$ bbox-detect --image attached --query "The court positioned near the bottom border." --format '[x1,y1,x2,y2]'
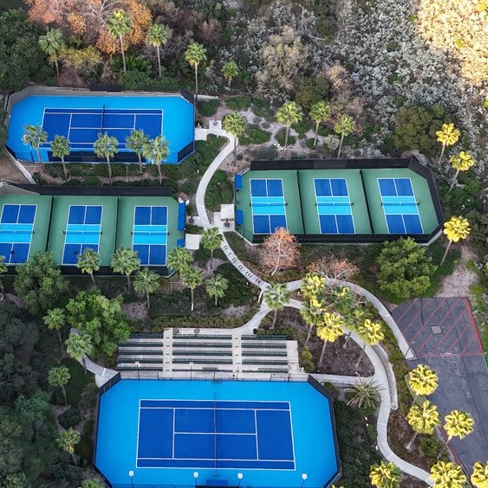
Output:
[94,380,339,488]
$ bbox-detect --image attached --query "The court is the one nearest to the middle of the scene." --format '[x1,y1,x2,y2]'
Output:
[236,170,305,242]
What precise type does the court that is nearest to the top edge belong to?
tennis court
